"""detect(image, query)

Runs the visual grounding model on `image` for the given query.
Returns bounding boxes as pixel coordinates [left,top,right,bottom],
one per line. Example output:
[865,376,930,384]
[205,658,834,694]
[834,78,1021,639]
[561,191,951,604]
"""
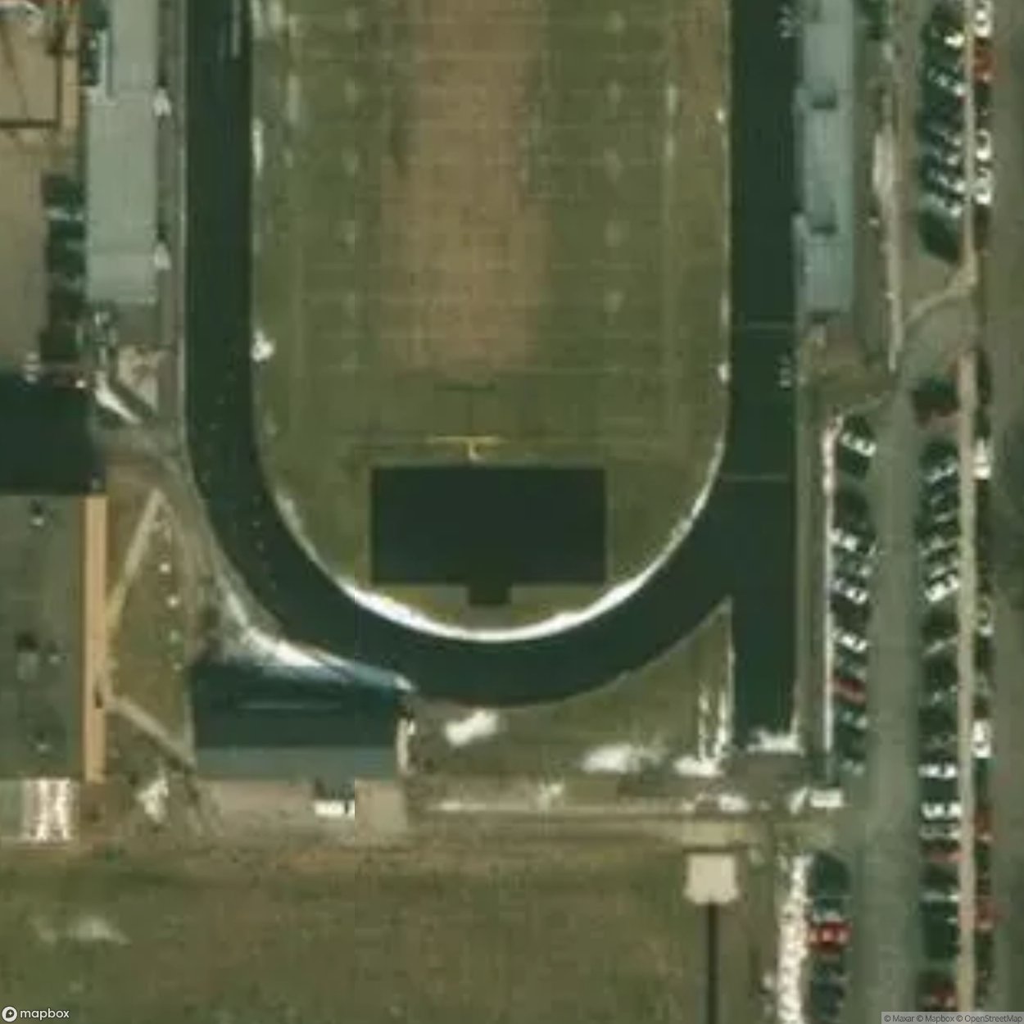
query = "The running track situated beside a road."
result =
[186,0,796,744]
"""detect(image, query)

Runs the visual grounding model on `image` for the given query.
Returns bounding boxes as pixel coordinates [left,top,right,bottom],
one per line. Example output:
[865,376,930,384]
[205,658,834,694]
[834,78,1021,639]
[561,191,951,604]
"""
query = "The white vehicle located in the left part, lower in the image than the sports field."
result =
[315,798,359,817]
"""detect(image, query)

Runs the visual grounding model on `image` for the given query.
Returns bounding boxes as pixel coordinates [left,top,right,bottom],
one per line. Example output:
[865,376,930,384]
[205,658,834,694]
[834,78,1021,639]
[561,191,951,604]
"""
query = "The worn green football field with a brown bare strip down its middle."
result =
[255,0,727,629]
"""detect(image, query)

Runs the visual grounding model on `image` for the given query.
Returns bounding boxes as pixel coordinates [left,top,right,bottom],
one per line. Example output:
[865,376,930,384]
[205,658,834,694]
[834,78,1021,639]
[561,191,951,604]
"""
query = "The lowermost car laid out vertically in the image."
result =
[976,976,993,1015]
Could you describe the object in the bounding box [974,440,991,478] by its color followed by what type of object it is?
white car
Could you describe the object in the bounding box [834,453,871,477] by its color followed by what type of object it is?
black car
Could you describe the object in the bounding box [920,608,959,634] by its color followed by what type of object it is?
black car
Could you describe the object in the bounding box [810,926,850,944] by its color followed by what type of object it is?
red car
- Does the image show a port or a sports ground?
sports ground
